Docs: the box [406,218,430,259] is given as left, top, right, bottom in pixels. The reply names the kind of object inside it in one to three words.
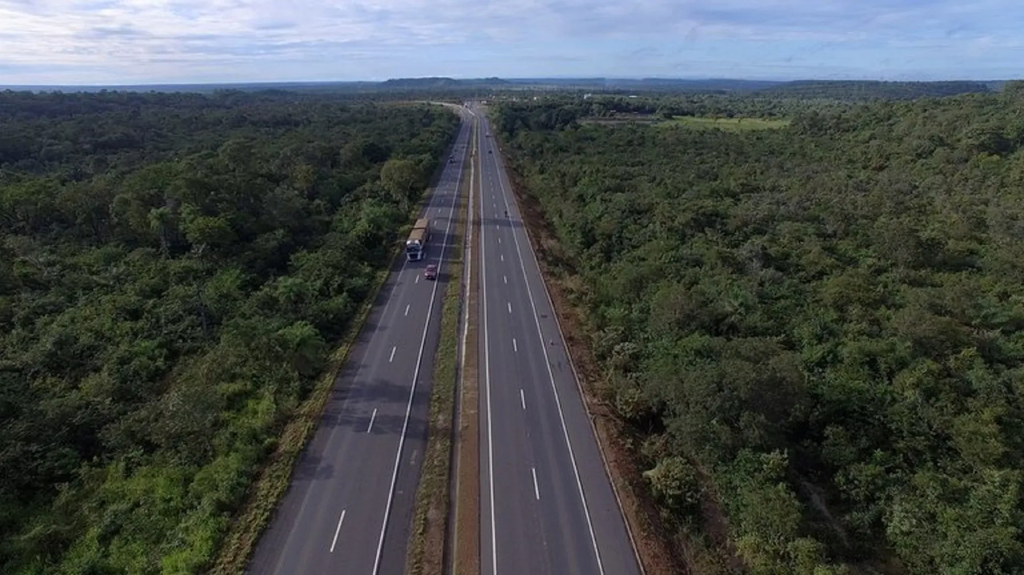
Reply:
truck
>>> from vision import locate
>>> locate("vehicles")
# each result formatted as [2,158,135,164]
[426,266,437,278]
[406,218,430,259]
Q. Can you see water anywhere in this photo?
No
